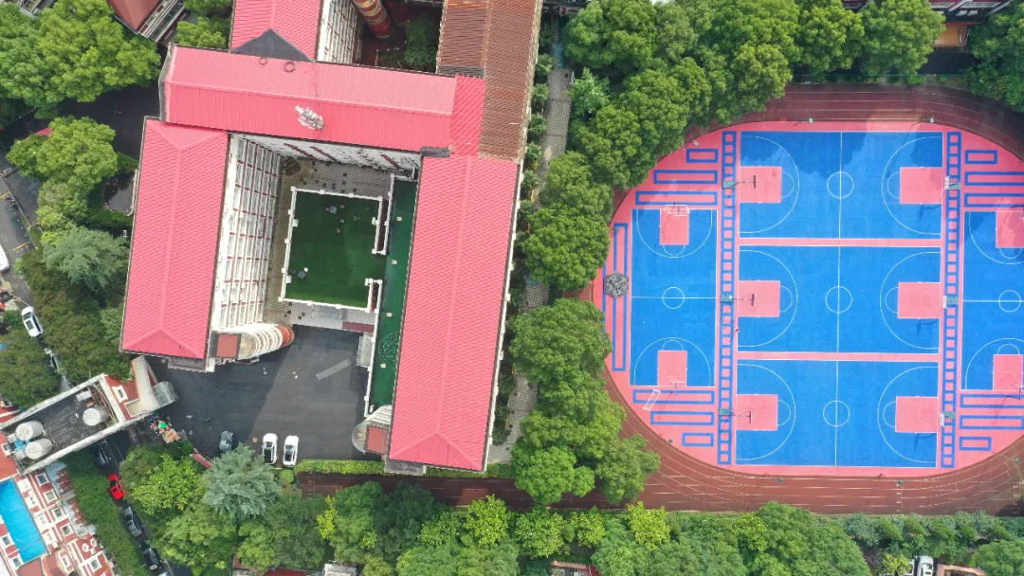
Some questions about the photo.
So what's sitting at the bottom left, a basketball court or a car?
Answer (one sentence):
The feature located at the bottom left is a car.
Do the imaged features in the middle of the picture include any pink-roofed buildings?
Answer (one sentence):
Yes, looking in the middle of the picture, one can make out a pink-roofed building.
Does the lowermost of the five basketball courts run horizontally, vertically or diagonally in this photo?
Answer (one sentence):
The lowermost of the five basketball courts has been laid out horizontally relative to the frame.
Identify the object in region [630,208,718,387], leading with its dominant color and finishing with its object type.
blue basketball court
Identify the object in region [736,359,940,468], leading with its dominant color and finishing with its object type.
blue basketball court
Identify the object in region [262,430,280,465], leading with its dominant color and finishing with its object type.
white car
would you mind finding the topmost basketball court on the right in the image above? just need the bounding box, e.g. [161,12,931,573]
[739,131,943,239]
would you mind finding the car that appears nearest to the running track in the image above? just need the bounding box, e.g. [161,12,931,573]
[283,433,300,467]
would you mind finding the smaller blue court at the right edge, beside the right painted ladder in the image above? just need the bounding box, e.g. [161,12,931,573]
[960,211,1024,391]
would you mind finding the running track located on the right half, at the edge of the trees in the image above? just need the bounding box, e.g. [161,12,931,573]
[300,77,1024,518]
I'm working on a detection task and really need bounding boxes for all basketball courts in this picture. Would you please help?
[630,208,718,387]
[736,359,940,468]
[737,246,941,354]
[960,211,1024,391]
[739,131,943,239]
